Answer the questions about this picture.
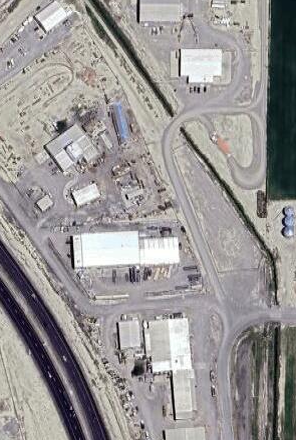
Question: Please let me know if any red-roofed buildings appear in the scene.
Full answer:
No, there is no red-roofed building in the image.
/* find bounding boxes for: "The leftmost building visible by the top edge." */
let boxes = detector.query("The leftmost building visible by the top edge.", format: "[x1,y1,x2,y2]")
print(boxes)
[36,2,72,31]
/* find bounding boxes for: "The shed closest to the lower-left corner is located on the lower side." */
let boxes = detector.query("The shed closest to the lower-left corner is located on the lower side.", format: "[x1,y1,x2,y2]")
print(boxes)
[118,321,141,349]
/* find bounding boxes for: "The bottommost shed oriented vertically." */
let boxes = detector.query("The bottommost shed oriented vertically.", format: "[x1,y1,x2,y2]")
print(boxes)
[172,370,197,420]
